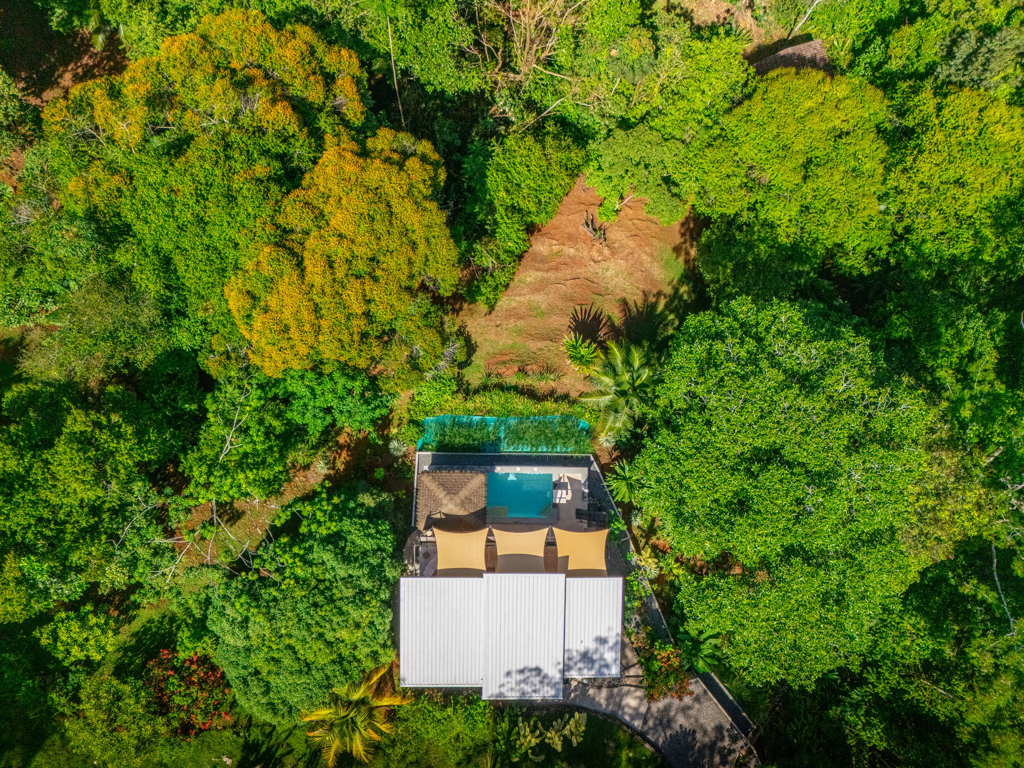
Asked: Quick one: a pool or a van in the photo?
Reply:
pool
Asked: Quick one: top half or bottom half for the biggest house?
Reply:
bottom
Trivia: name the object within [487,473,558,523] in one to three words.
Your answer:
swimming pool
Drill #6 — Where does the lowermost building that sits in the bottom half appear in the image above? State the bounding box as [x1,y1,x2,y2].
[399,573,623,700]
